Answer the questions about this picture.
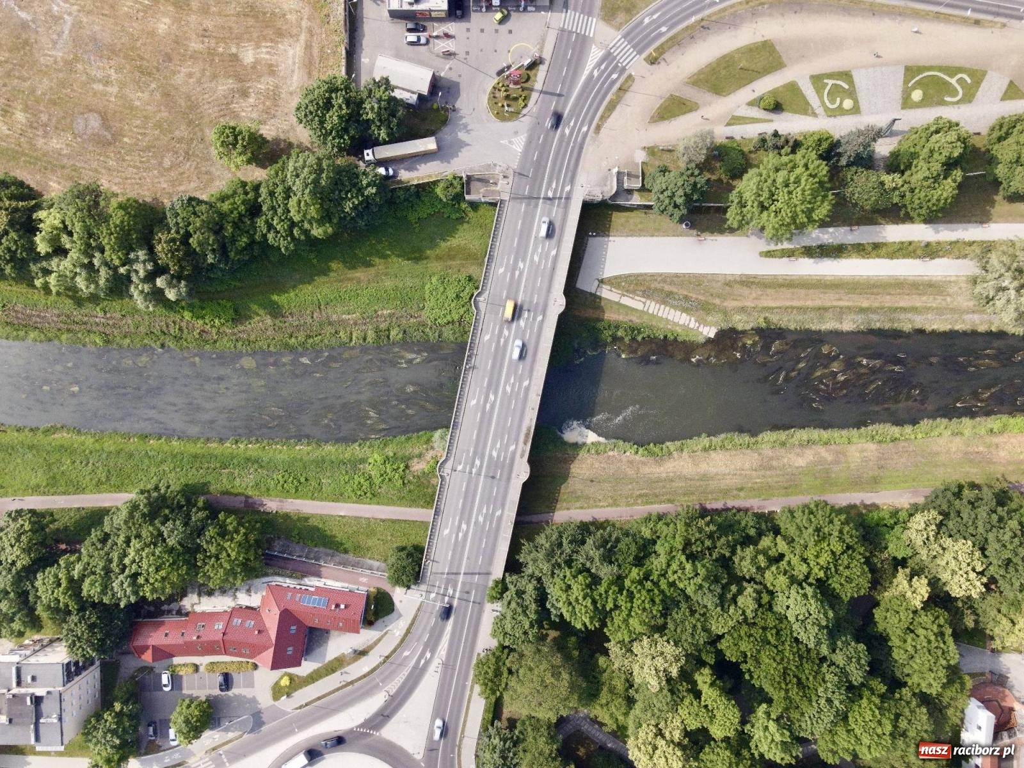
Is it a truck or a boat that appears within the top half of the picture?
truck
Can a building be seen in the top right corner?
No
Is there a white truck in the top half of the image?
Yes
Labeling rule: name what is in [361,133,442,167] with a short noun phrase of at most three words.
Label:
truck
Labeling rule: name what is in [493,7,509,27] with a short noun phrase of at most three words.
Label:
car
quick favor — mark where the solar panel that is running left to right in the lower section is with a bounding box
[300,595,328,607]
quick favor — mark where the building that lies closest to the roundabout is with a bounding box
[129,578,369,670]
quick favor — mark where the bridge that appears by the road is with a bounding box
[421,182,580,588]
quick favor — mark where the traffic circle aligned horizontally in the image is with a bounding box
[274,728,426,768]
